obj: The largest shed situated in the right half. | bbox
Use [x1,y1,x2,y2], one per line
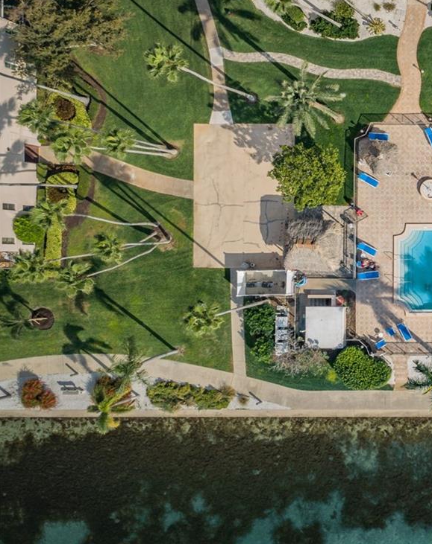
[281,212,349,282]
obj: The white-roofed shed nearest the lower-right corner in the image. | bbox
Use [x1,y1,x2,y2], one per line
[306,308,350,347]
